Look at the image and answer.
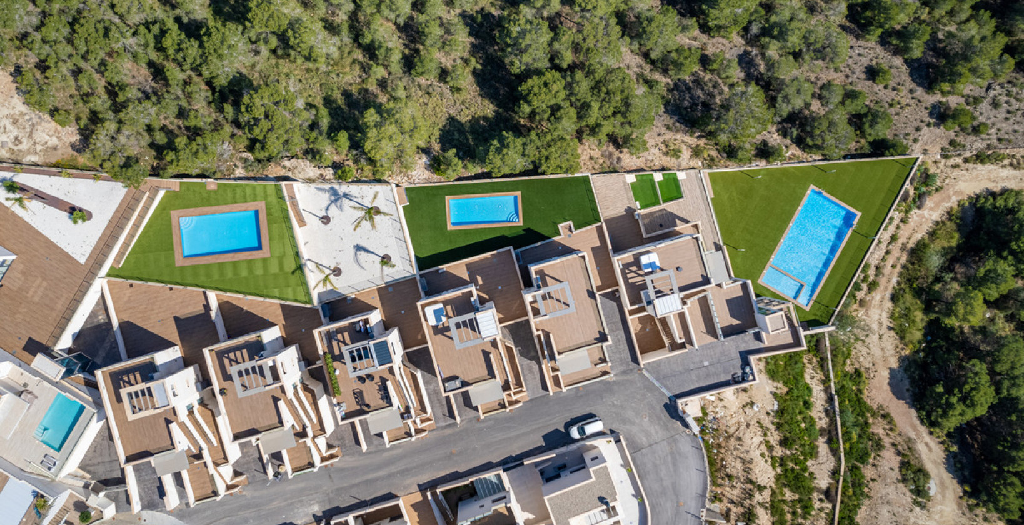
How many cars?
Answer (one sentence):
My tally gives 1 car in this photo.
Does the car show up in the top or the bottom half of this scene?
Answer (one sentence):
The bottom half of the photo is where the car is.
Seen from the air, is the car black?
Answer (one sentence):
No, the color of the car is white.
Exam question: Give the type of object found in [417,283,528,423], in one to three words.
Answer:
house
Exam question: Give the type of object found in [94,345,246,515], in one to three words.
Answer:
house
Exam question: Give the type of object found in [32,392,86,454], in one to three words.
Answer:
swimming pool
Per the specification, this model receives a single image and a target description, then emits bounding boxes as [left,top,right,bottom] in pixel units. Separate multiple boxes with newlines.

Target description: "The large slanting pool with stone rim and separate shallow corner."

[758,185,865,311]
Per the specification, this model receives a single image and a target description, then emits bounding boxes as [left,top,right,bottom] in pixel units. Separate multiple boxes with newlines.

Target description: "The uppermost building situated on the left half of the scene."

[0,244,28,289]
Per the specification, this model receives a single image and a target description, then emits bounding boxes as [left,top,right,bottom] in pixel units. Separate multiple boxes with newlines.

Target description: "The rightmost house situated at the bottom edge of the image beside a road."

[522,447,620,525]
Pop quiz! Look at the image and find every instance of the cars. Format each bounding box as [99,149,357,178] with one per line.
[568,418,605,440]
